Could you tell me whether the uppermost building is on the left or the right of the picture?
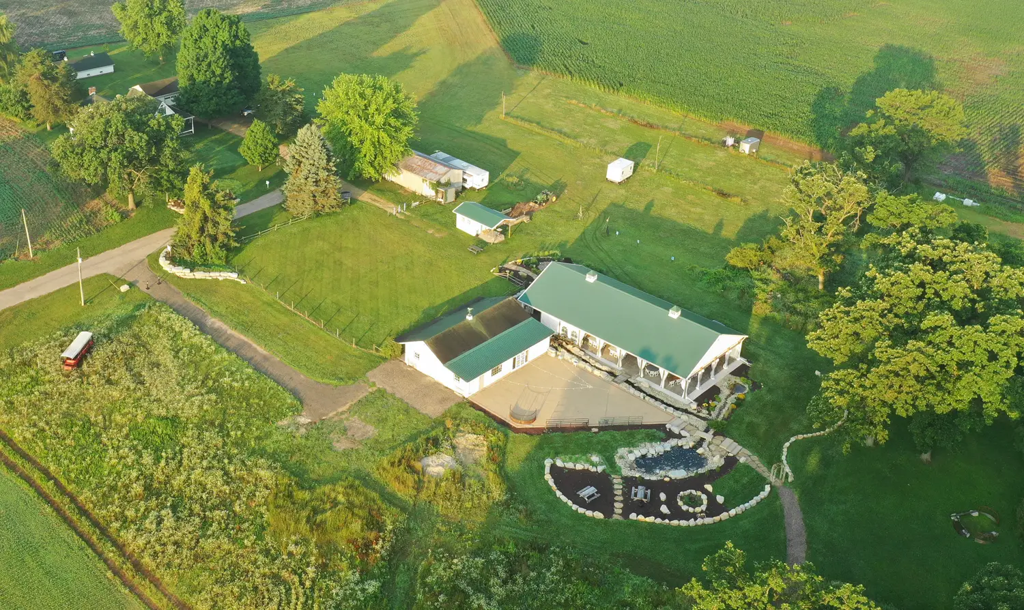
left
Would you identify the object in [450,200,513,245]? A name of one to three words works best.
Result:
shed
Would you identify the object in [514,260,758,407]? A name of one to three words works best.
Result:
building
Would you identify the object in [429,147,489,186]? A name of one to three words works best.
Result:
vehicle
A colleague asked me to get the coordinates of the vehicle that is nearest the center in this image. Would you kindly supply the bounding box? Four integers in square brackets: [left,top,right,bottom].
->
[530,185,559,210]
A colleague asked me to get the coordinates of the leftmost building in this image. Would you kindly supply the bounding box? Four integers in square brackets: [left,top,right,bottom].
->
[48,49,115,80]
